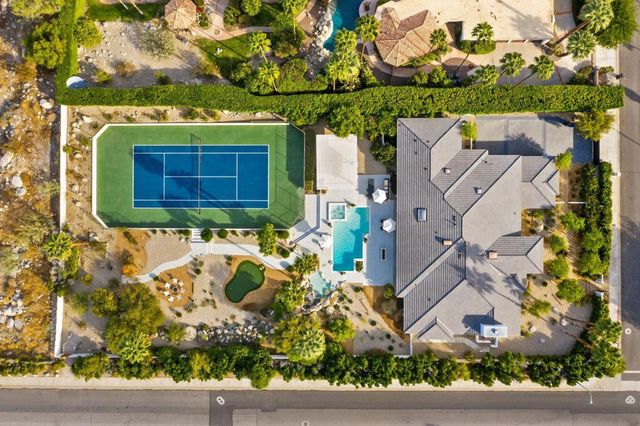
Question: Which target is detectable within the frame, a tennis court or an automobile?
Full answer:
The image shows a tennis court.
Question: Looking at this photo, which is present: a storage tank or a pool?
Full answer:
This aerial view contains a pool.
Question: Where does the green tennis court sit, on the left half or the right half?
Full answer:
The green tennis court sits on the left side.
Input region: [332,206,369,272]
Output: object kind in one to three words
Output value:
swimming pool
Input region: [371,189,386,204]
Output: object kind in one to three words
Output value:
umbrella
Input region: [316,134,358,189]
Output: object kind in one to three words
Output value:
building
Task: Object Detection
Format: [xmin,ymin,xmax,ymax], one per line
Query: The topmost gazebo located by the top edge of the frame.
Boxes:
[164,0,200,32]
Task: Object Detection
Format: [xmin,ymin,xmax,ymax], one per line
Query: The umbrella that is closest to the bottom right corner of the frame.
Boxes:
[382,219,395,232]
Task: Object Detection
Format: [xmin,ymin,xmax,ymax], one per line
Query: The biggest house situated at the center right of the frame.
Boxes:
[397,117,561,342]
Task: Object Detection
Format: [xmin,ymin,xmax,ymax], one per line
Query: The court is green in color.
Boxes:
[92,106,306,230]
